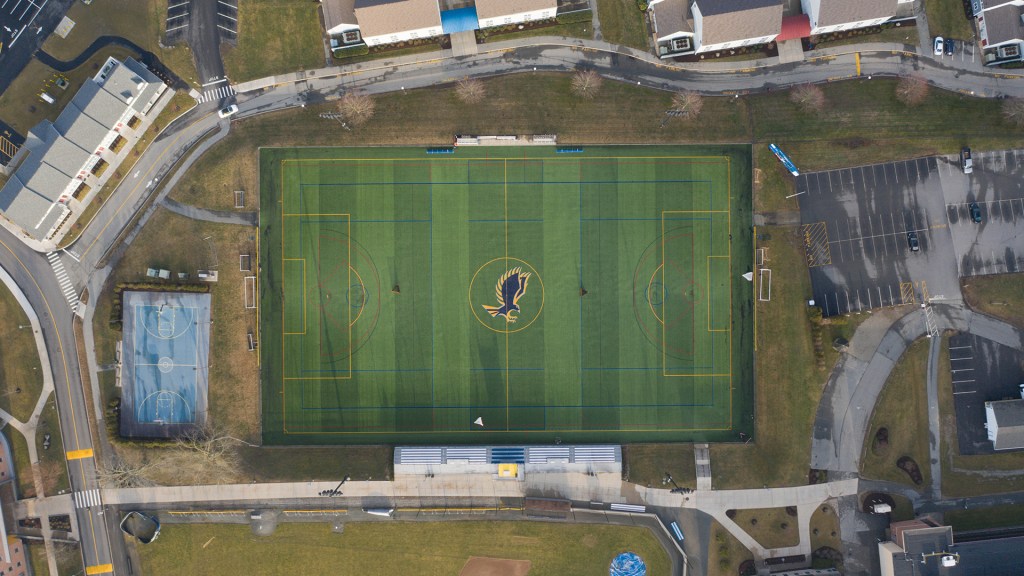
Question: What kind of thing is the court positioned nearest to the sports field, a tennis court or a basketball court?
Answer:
basketball court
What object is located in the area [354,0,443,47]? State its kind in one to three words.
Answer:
house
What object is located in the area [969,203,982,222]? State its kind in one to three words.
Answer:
vehicle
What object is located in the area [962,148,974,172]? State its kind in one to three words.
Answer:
vehicle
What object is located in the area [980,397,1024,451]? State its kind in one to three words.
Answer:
building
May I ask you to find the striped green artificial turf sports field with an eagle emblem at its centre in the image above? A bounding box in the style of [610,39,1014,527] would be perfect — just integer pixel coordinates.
[259,143,754,446]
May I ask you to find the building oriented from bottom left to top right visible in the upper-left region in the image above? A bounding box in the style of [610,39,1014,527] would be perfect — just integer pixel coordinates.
[0,54,167,238]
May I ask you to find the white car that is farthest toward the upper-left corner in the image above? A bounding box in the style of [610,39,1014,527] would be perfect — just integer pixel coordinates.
[217,103,239,117]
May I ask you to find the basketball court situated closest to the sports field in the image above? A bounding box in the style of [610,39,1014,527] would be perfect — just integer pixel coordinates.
[120,291,211,440]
